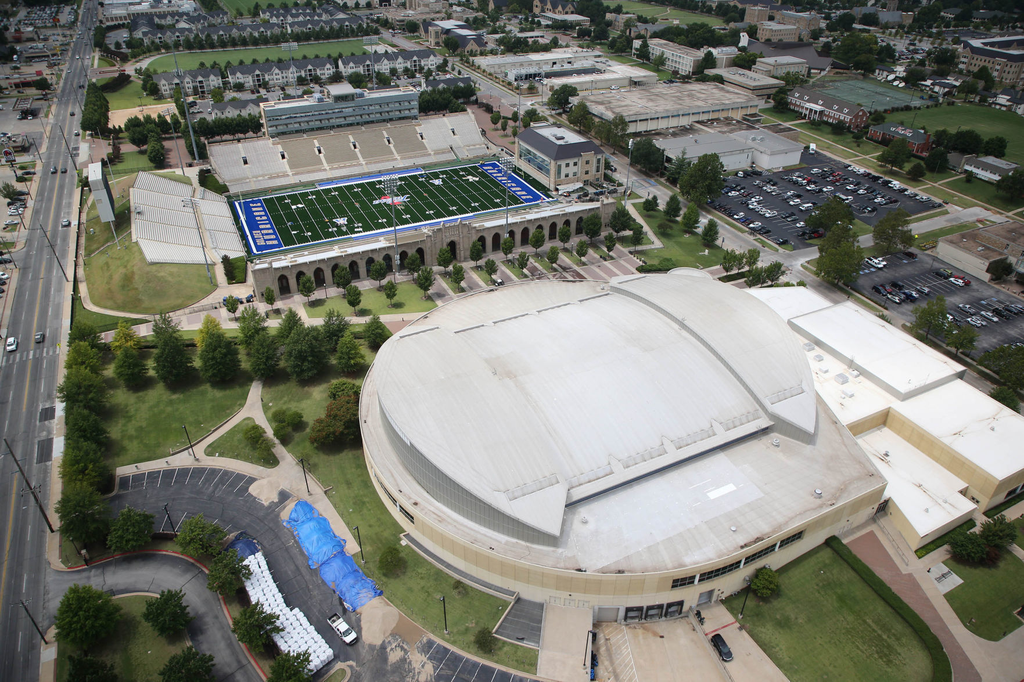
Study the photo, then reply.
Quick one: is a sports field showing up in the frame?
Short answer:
Yes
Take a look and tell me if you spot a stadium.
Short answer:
Yes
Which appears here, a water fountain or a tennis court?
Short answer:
tennis court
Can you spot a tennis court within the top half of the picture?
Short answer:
Yes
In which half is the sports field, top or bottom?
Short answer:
top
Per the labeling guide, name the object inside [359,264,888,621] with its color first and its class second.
white stadium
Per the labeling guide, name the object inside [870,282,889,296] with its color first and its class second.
black vehicle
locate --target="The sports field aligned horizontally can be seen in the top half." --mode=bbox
[228,159,569,256]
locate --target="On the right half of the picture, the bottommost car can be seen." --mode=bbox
[713,635,732,664]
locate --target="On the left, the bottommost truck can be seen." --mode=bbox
[329,614,358,646]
